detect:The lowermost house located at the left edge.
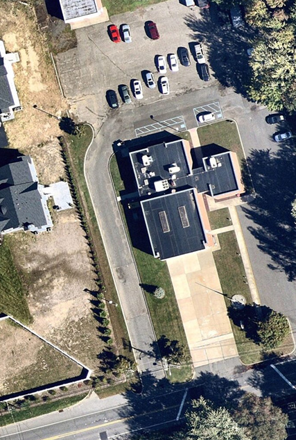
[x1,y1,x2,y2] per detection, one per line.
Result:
[0,155,51,237]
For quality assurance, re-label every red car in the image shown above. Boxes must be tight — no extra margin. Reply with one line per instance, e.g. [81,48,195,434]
[108,24,120,43]
[147,21,158,40]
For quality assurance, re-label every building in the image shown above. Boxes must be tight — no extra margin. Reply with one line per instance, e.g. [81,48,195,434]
[60,0,102,23]
[129,141,243,258]
[0,155,51,237]
[0,40,18,111]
